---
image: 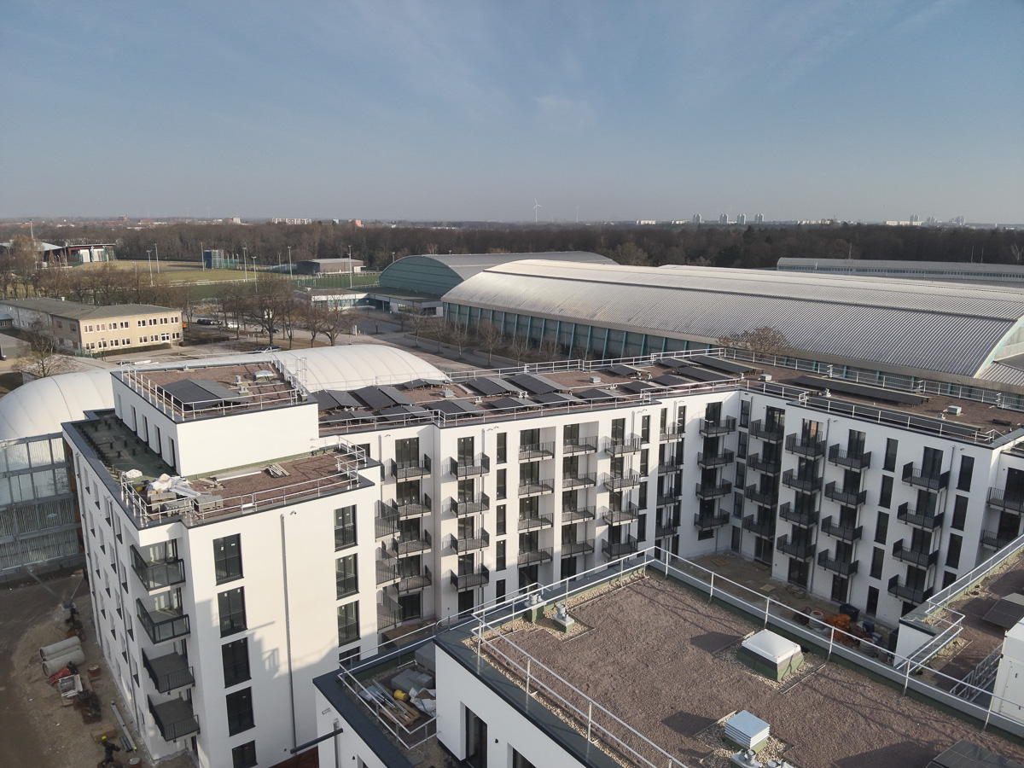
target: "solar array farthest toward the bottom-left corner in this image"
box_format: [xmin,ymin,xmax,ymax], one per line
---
[160,379,253,413]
